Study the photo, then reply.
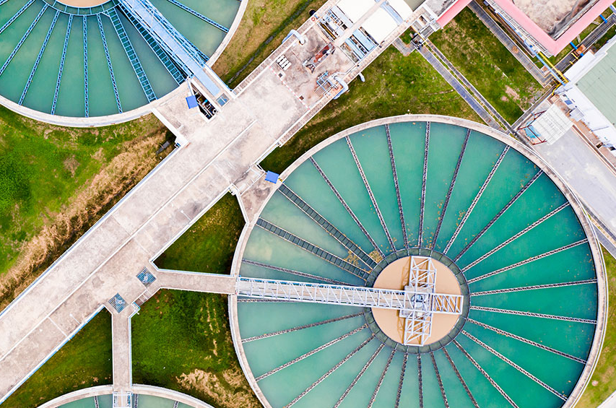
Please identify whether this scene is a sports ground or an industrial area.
industrial area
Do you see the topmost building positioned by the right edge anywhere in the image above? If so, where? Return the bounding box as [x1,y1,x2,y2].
[491,0,615,58]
